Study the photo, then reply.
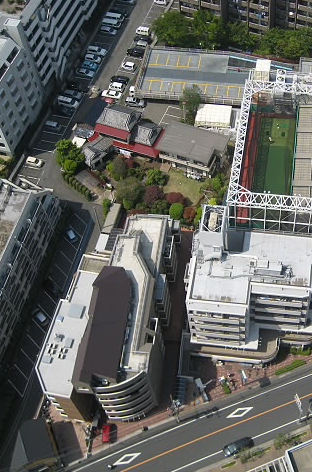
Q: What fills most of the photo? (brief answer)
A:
buildings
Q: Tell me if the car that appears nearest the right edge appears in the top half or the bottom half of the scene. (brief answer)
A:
bottom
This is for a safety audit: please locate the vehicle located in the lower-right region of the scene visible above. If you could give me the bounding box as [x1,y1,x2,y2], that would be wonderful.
[225,435,253,456]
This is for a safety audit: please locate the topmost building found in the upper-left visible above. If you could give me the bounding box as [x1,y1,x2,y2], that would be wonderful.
[0,0,99,90]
